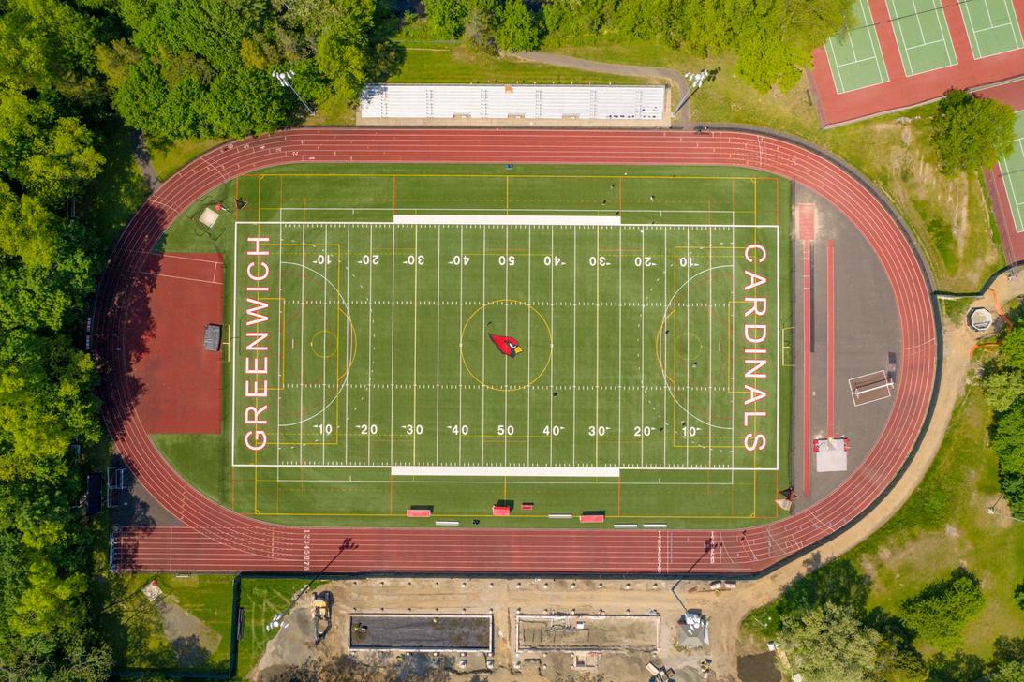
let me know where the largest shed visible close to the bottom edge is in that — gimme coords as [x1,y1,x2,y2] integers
[677,621,706,650]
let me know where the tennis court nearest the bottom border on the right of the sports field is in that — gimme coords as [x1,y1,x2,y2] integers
[996,109,1024,233]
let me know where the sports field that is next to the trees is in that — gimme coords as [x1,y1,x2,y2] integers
[150,164,794,529]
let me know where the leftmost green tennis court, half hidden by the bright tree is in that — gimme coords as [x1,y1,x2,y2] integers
[816,0,890,95]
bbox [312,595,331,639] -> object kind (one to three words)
work vehicle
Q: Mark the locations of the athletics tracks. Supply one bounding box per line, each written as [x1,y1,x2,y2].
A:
[91,128,937,574]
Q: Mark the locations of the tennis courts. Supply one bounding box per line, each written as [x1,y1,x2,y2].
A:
[886,0,959,77]
[996,109,1024,233]
[956,0,1024,60]
[816,0,890,95]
